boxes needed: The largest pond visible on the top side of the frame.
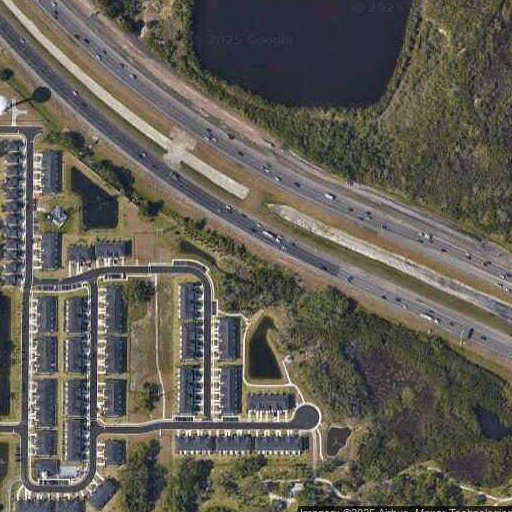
[70,166,117,229]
